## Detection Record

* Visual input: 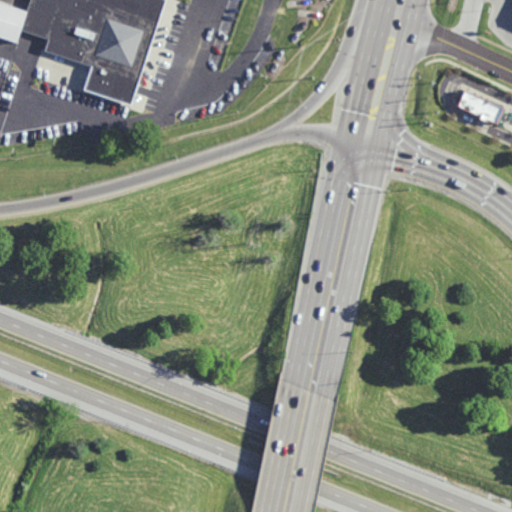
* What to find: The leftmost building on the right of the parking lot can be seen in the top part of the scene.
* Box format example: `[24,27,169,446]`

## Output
[457,91,504,125]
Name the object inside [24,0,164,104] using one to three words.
building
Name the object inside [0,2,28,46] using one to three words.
building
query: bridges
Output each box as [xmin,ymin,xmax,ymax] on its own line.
[252,379,336,512]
